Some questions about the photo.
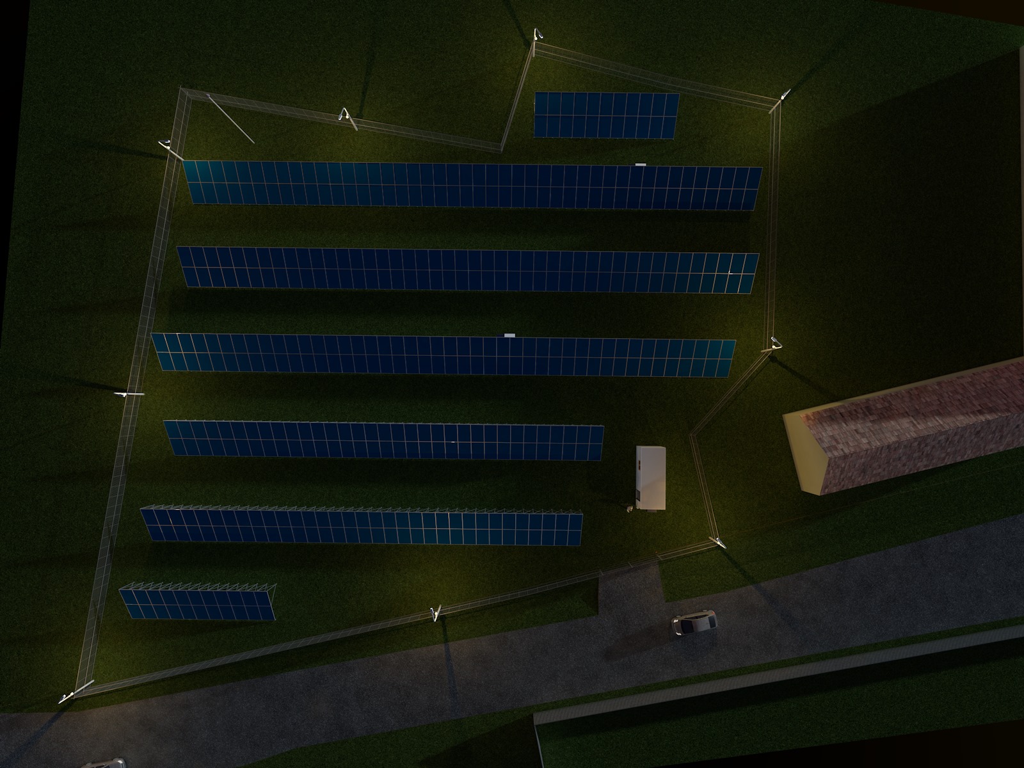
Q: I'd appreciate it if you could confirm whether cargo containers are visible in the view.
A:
Yes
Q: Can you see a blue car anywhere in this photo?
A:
No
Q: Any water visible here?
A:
No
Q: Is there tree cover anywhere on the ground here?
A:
No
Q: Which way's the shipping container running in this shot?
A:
up and down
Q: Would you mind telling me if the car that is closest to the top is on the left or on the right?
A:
right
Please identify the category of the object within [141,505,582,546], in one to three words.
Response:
solar array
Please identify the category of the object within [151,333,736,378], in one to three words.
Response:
solar array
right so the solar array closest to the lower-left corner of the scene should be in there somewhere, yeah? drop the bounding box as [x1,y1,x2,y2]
[120,582,277,622]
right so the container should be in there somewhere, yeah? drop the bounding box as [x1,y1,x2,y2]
[636,446,666,513]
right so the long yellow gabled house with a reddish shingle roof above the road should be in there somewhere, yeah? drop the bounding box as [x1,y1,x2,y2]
[782,357,1024,497]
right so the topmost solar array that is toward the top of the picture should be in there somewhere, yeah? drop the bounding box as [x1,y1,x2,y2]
[534,92,679,138]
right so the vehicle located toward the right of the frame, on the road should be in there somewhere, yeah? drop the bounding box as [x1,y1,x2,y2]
[669,609,718,638]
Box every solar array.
[534,92,679,138]
[141,505,582,546]
[184,161,761,210]
[151,333,736,378]
[177,247,759,293]
[120,582,277,622]
[164,419,603,461]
